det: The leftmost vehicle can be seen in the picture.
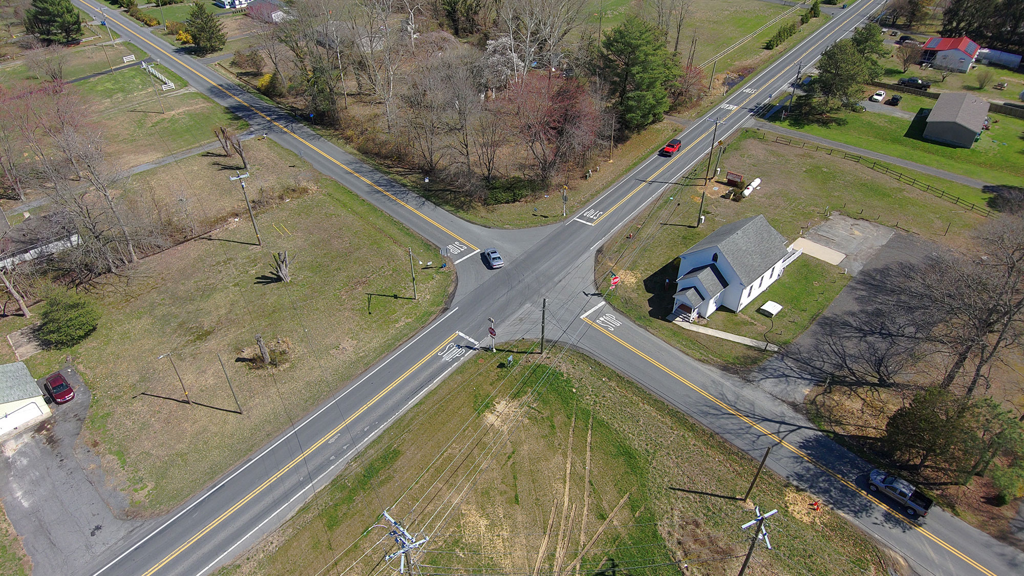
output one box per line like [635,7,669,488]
[41,371,73,403]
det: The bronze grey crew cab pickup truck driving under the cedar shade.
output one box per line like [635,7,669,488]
[868,471,943,524]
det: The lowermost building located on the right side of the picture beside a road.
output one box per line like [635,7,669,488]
[666,214,809,324]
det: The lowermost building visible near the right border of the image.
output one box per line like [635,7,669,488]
[923,92,990,147]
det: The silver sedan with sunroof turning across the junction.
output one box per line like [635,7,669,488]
[481,248,505,270]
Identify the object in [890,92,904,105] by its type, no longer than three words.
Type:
vehicle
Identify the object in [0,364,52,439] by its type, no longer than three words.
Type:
building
